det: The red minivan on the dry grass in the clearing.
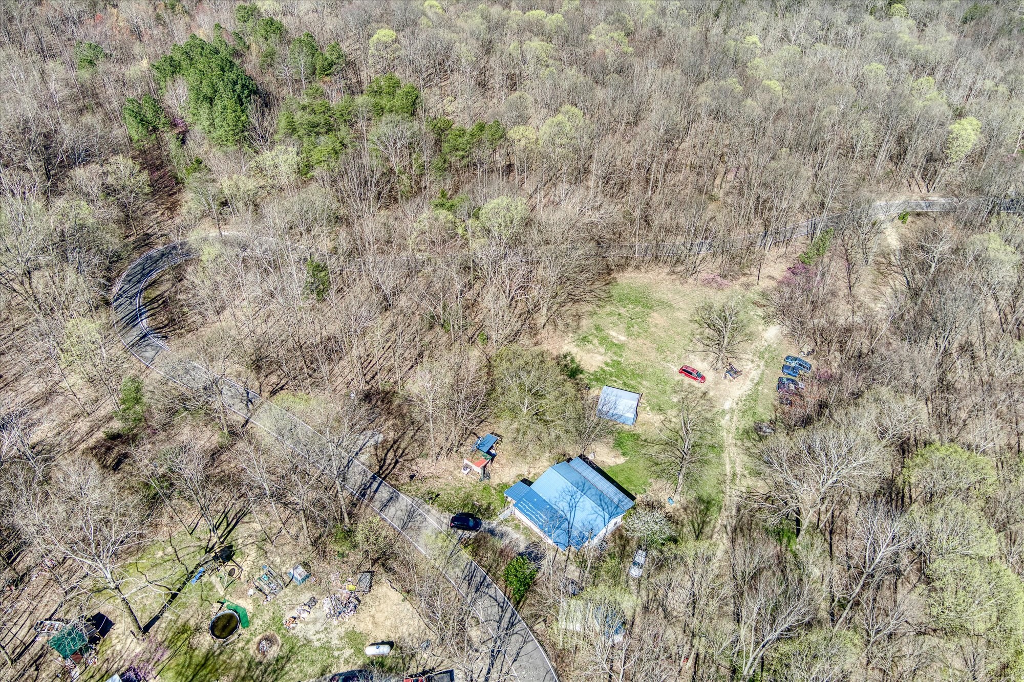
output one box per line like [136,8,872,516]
[678,363,707,384]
